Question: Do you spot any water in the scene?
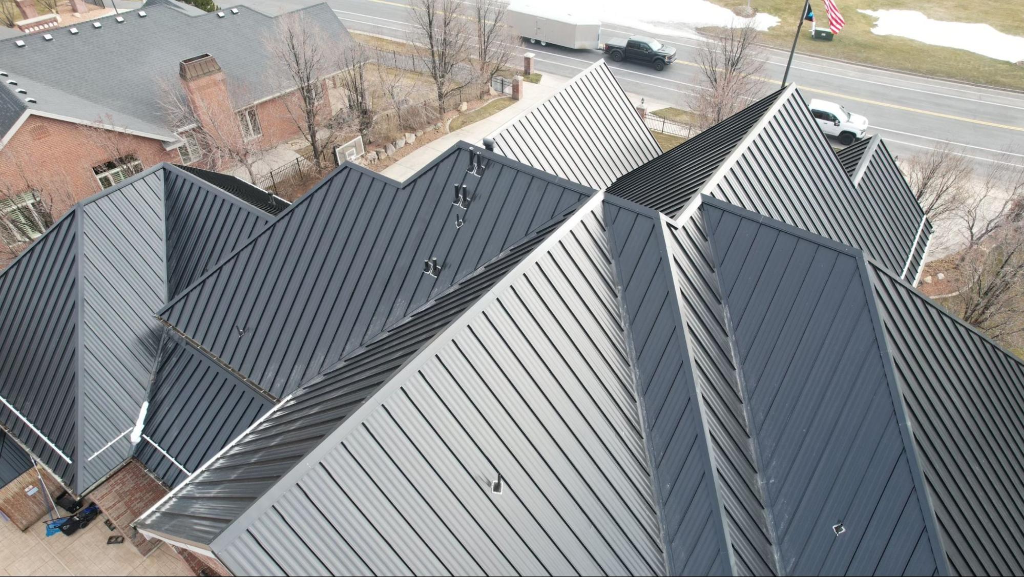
No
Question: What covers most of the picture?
buildings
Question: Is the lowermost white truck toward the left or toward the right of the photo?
right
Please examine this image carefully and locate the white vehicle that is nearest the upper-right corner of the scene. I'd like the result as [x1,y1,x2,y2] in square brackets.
[809,98,872,146]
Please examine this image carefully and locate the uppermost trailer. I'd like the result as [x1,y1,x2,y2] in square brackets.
[511,4,605,51]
